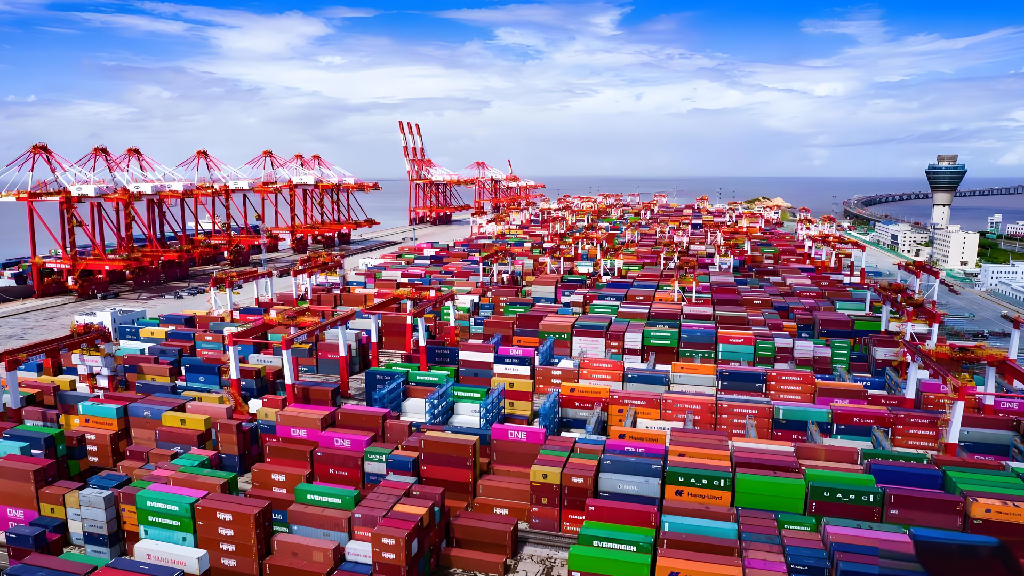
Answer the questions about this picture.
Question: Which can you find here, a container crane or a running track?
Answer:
container crane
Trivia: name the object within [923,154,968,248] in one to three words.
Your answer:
building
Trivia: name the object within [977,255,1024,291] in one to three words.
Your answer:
building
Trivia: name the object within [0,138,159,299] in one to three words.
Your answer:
container crane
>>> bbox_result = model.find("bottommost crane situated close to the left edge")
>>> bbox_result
[0,309,123,423]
